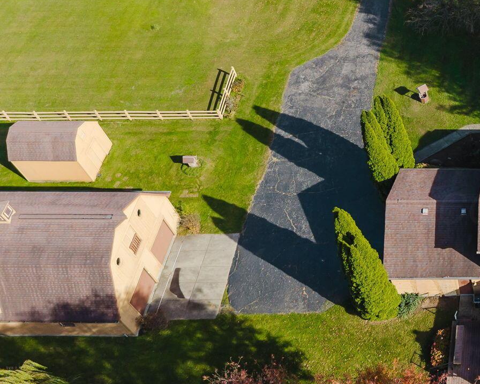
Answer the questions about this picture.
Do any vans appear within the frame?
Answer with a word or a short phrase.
No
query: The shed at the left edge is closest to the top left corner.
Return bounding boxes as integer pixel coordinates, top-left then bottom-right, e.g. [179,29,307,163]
[8,122,111,180]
